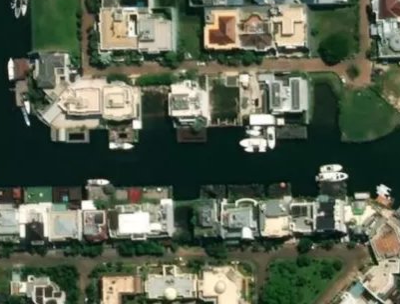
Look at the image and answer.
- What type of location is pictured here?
residential area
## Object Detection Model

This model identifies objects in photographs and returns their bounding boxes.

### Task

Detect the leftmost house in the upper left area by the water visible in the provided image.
[35,53,70,104]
